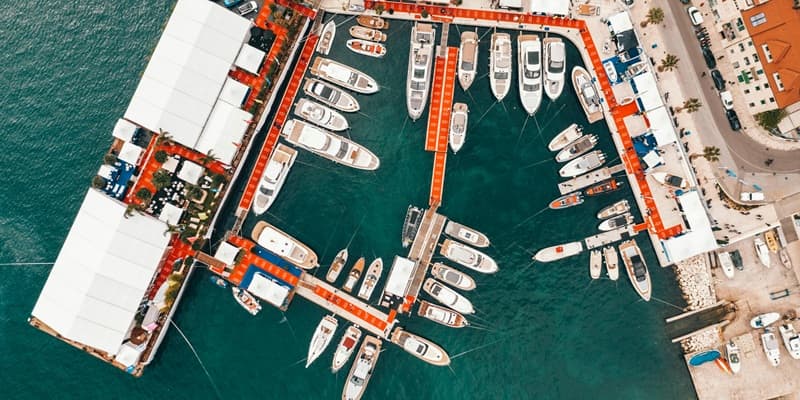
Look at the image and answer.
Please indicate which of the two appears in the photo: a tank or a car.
car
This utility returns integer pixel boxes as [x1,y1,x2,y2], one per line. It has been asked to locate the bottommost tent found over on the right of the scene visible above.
[658,231,719,262]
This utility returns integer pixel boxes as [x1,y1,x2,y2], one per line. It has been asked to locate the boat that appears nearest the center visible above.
[402,207,423,246]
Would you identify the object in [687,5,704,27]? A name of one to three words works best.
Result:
car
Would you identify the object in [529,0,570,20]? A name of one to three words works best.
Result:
tent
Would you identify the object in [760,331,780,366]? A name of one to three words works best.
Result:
boat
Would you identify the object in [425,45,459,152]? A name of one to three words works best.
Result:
pier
